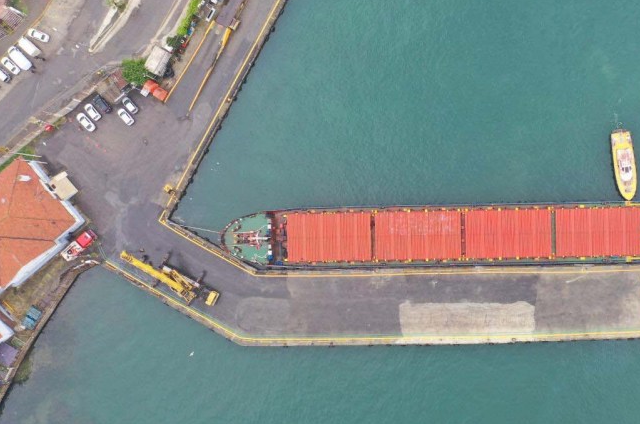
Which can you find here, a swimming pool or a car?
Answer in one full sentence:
Of the two, only a car appears.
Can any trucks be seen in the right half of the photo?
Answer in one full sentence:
No, I can find no truck in the right half of the photo.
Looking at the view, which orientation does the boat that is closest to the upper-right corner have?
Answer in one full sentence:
From this overhead view, the boat that is closest to the upper-right corner appears to run vertically.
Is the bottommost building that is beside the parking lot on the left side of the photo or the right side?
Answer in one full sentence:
The bottommost building that is beside the parking lot appears in the left half of the scene.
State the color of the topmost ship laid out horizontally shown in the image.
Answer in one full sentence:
In this view, the topmost ship laid out horizontally is red.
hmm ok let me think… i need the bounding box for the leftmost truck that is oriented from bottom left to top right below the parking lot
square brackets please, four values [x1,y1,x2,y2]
[59,230,97,260]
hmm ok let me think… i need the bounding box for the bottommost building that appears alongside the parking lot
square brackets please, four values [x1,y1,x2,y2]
[0,157,84,294]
